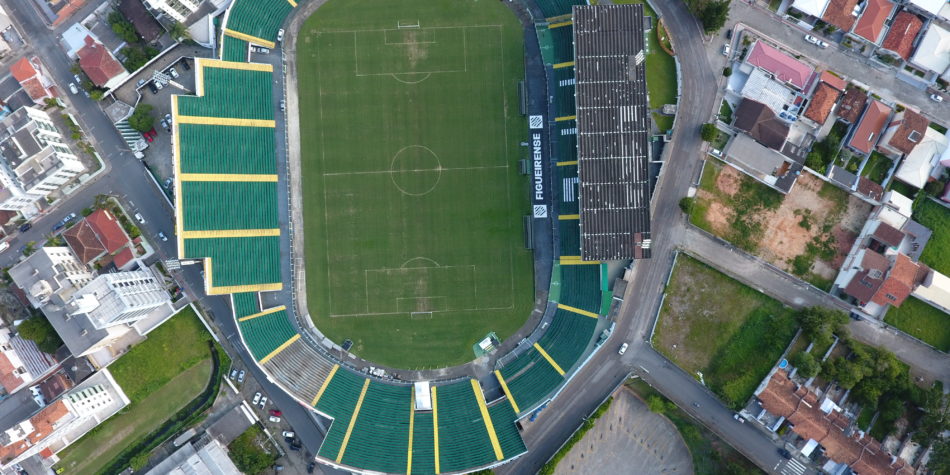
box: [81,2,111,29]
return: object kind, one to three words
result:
shed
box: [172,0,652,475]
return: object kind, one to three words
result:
stadium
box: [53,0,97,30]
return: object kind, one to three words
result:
house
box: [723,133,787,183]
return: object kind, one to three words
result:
building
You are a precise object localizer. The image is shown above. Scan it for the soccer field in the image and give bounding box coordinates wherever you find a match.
[299,0,533,370]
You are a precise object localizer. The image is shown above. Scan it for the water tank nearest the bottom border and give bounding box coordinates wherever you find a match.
[26,277,57,301]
